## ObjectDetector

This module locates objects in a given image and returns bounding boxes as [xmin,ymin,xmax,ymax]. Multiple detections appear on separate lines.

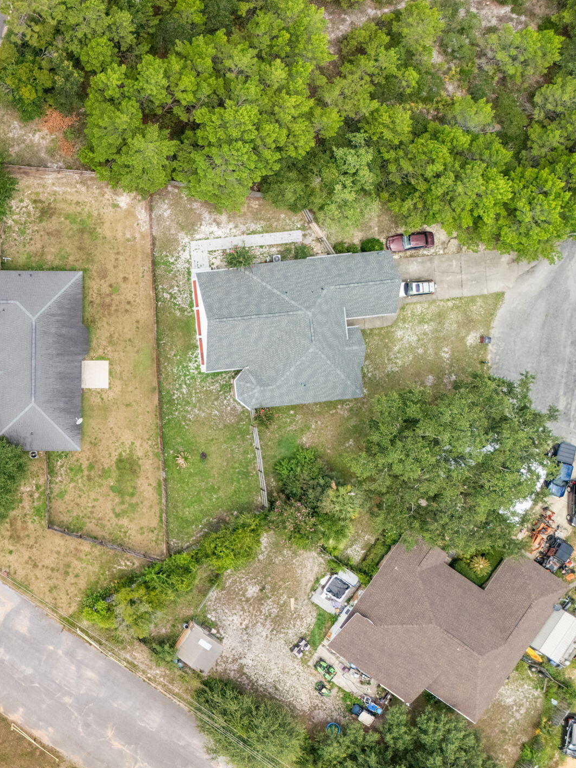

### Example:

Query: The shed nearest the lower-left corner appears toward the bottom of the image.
[175,619,223,675]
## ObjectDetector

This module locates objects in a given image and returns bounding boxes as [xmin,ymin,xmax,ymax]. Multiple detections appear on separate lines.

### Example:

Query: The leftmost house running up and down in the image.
[0,270,89,451]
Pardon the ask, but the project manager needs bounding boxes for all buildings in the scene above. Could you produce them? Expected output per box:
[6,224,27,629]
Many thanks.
[0,270,89,451]
[175,619,223,675]
[187,252,401,411]
[327,531,568,723]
